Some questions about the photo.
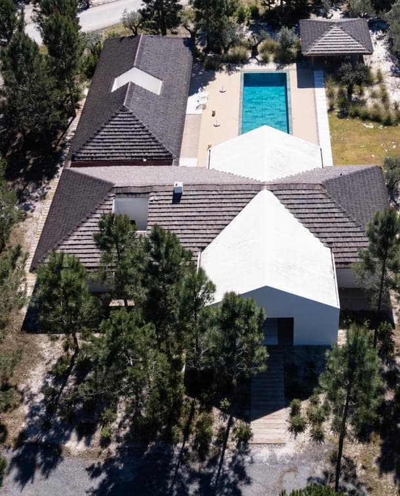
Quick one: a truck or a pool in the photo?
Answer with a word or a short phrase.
pool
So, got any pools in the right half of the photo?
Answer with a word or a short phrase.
Yes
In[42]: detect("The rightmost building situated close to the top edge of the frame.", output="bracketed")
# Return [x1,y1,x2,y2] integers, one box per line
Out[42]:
[298,17,375,77]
